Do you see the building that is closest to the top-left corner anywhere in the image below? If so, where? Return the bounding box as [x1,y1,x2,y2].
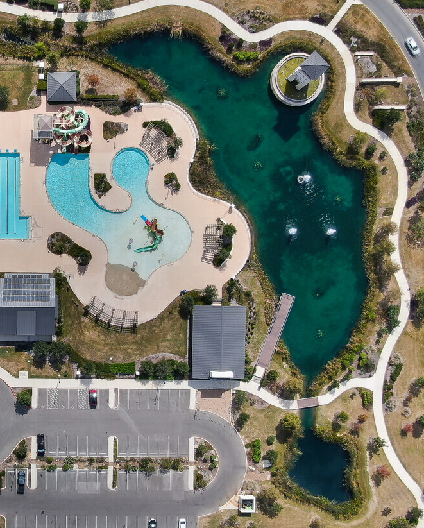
[47,72,76,103]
